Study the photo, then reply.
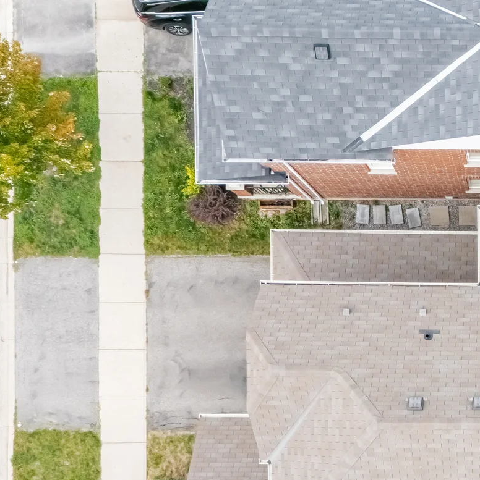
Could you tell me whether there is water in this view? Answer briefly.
No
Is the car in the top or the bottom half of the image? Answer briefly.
top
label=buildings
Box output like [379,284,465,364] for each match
[195,0,480,208]
[187,205,480,480]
